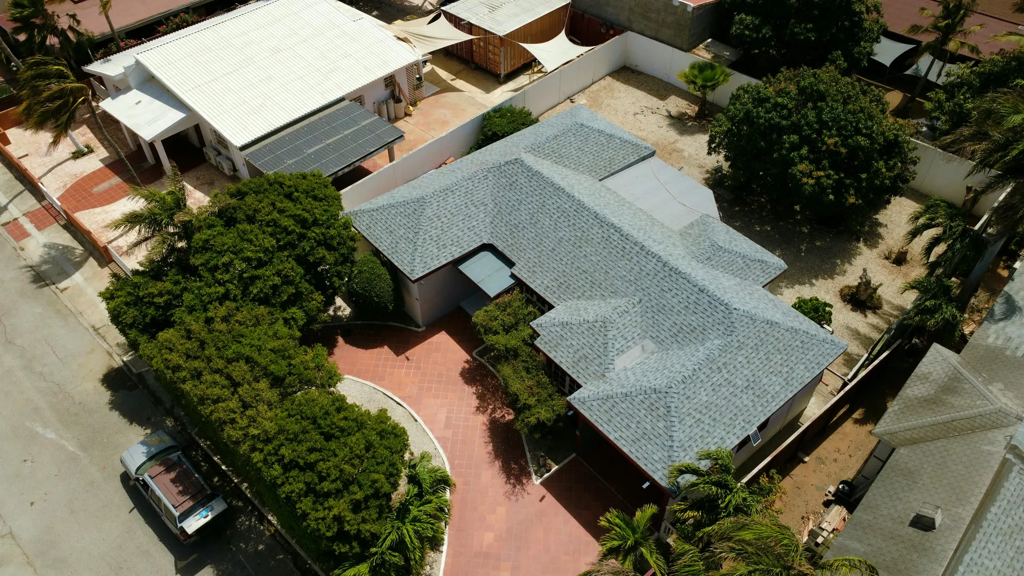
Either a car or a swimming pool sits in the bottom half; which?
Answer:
car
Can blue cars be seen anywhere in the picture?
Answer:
No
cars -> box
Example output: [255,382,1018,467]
[125,428,235,545]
